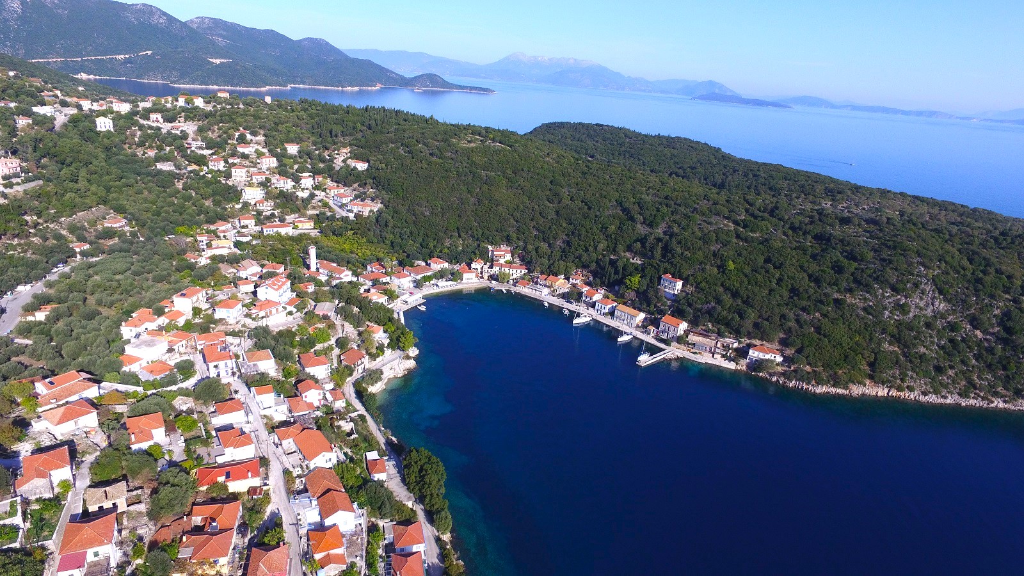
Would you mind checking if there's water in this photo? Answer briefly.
Yes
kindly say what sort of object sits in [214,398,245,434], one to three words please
house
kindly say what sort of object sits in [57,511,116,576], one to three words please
house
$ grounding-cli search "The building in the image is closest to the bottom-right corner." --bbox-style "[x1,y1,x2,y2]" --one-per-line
[749,345,779,366]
